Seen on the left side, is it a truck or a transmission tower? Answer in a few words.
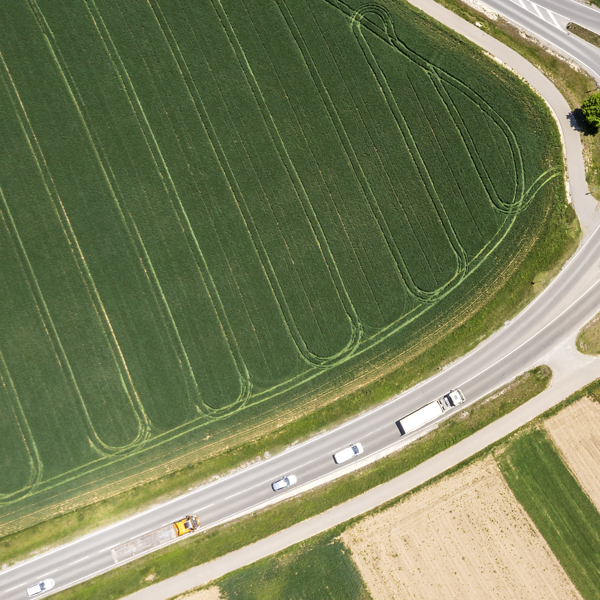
truck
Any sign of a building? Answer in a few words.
No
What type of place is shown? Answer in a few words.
farmland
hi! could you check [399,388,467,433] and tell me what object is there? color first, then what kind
white truck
